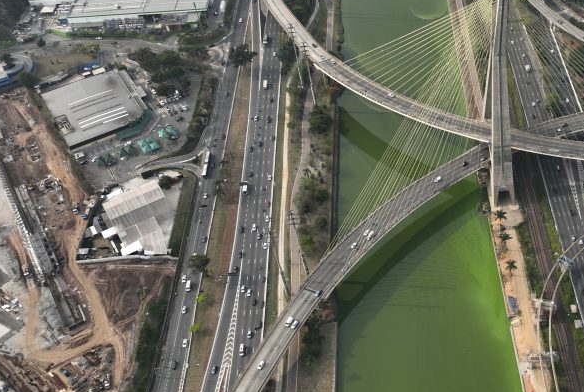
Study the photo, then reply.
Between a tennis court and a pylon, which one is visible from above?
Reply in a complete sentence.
Of the two, only a pylon appears.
